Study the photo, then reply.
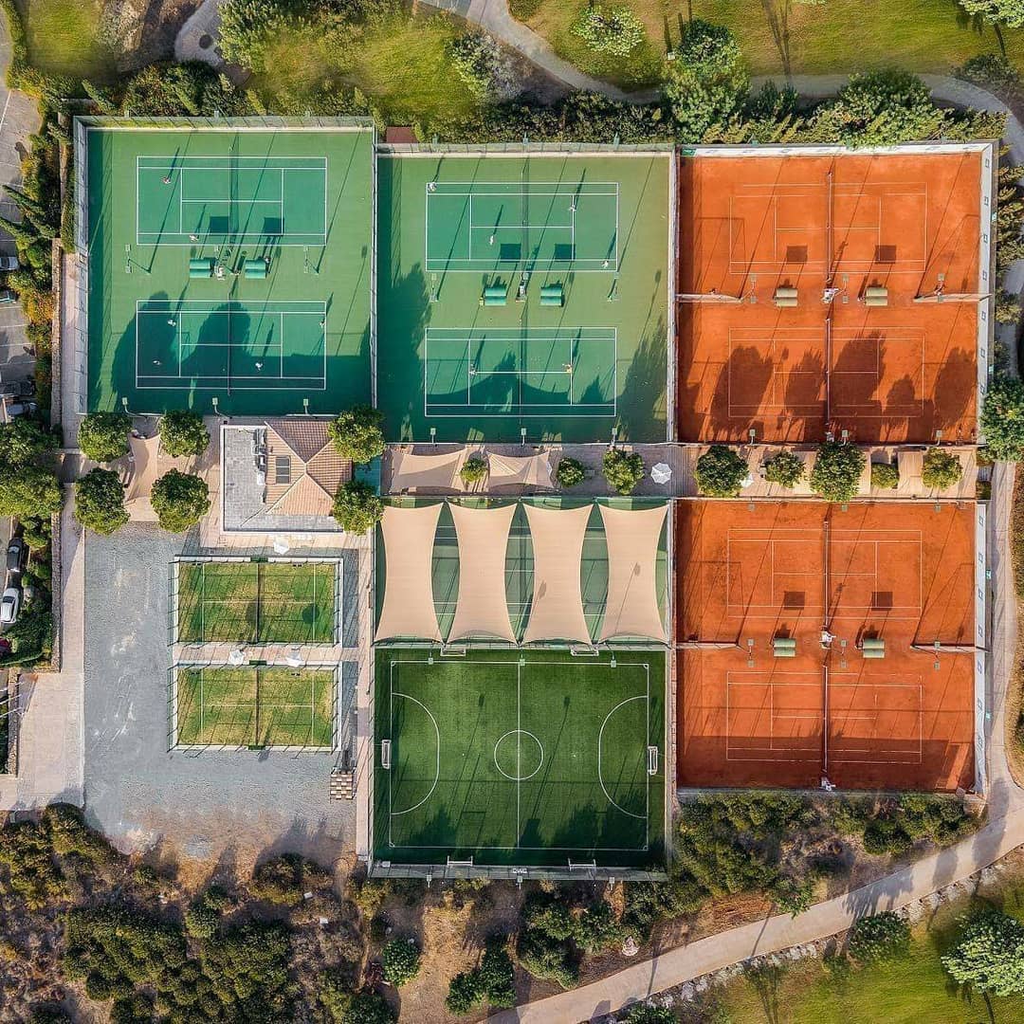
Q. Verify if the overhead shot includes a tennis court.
Yes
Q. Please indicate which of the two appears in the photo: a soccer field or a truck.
soccer field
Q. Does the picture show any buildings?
Yes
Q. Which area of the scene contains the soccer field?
bottom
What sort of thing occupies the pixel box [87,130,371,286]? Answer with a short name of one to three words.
tennis court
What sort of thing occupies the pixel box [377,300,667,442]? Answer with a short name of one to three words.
tennis court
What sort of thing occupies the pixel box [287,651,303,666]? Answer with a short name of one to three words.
umbrella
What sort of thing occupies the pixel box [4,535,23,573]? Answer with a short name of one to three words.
car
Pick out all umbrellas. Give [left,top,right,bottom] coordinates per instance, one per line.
[741,474,756,486]
[230,648,245,663]
[287,651,303,666]
[275,537,290,553]
[650,462,671,484]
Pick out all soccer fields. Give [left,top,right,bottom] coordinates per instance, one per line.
[372,650,665,867]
